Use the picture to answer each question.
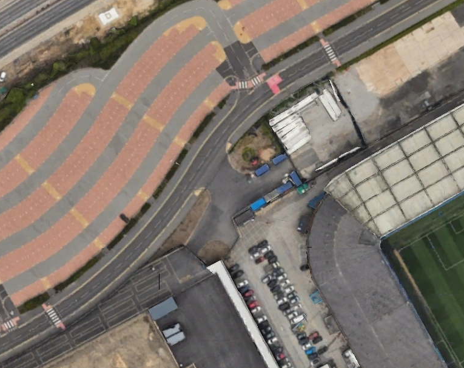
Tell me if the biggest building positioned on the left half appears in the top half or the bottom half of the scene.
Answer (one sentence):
The bottom half of the photo is where the biggest building positioned on the left half is.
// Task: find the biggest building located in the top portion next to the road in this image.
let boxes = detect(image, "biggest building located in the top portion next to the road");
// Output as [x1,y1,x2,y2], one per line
[270,93,320,157]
